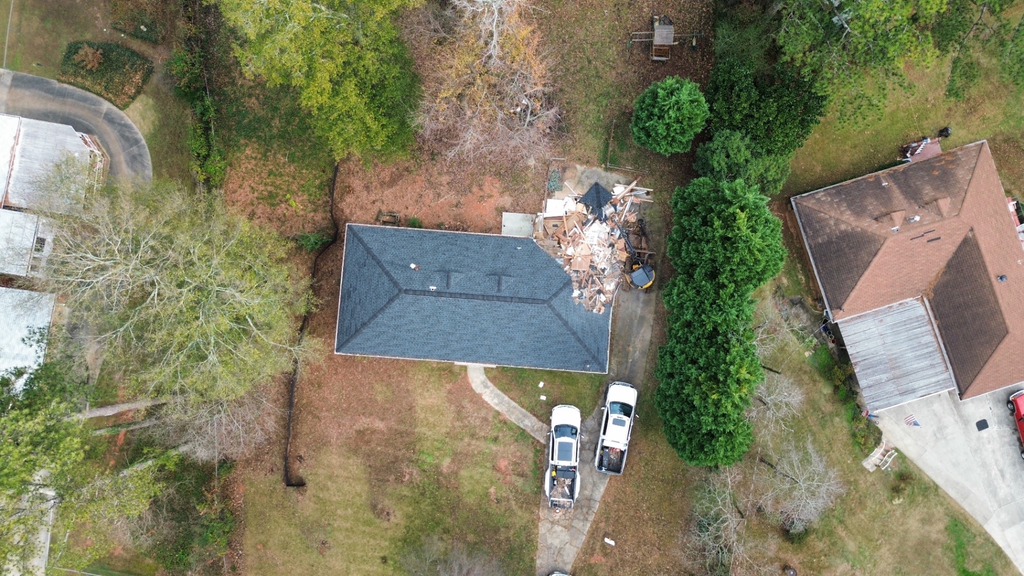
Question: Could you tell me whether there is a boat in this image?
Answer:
No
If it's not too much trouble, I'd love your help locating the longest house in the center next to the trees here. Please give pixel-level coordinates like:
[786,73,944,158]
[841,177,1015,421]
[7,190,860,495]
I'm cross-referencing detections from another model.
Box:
[333,223,622,375]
